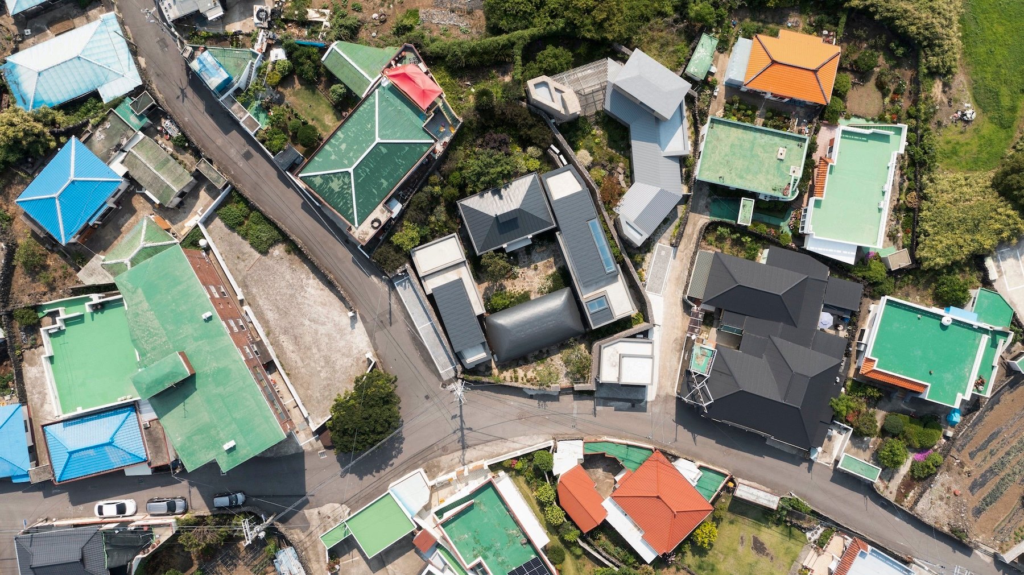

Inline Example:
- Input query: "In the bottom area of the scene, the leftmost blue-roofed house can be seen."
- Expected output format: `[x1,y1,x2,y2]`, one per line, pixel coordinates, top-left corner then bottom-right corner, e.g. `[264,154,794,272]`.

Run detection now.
[0,403,42,476]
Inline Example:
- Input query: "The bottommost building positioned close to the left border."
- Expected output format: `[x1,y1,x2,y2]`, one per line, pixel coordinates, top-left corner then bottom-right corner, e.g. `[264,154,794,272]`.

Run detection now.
[13,523,120,575]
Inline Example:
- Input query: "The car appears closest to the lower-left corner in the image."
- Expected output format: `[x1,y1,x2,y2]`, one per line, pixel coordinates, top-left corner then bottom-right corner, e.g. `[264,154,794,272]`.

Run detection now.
[94,496,139,517]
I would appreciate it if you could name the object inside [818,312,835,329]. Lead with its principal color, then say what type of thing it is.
white umbrella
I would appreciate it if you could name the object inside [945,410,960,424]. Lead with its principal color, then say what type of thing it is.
blue umbrella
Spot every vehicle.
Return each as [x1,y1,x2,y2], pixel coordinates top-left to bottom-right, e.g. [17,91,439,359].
[145,494,190,516]
[212,489,247,509]
[94,496,139,517]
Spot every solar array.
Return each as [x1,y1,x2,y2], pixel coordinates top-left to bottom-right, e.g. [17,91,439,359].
[508,554,547,575]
